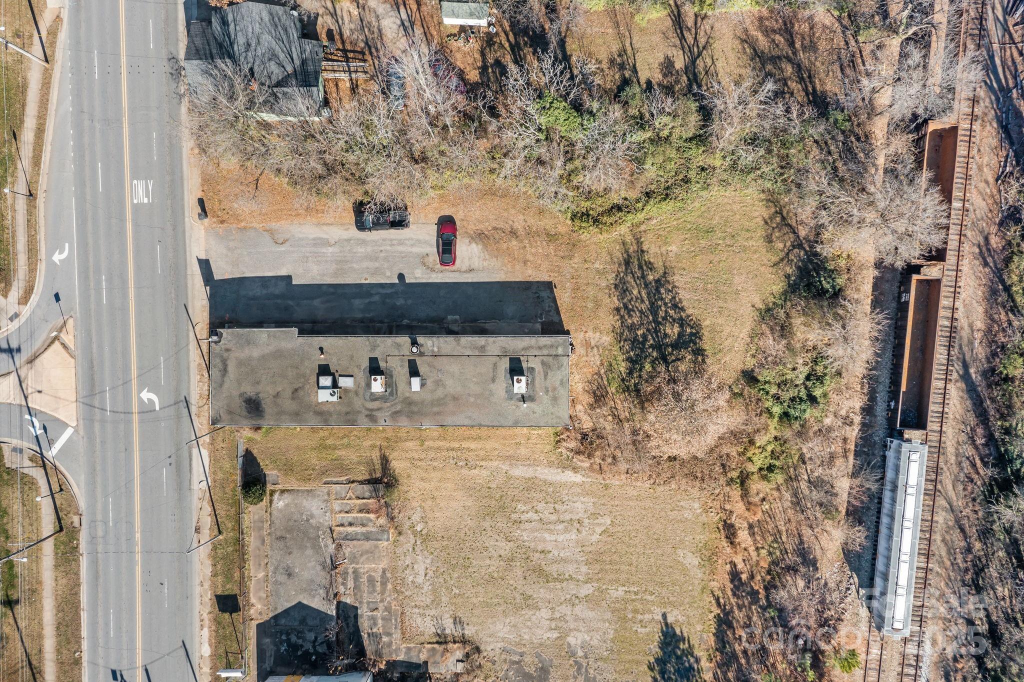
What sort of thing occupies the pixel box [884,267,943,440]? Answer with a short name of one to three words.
rail car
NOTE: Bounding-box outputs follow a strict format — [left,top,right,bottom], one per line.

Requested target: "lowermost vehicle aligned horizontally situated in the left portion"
[354,205,411,231]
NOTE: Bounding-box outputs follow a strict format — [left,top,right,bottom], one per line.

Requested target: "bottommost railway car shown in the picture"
[866,428,929,639]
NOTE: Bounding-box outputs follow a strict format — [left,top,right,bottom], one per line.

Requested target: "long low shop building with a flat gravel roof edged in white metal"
[211,328,573,431]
